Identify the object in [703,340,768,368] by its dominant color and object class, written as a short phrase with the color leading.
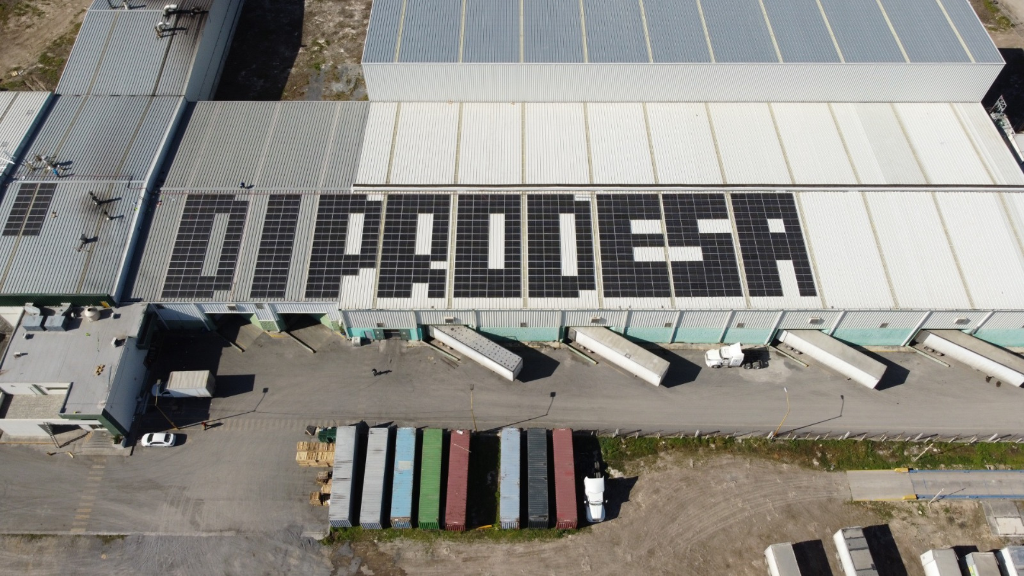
white truck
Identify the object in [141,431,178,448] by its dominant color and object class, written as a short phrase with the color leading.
white car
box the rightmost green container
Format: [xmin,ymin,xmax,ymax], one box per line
[419,430,444,529]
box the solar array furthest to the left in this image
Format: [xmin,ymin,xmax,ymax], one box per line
[1,184,56,237]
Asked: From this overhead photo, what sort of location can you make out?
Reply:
industrial area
